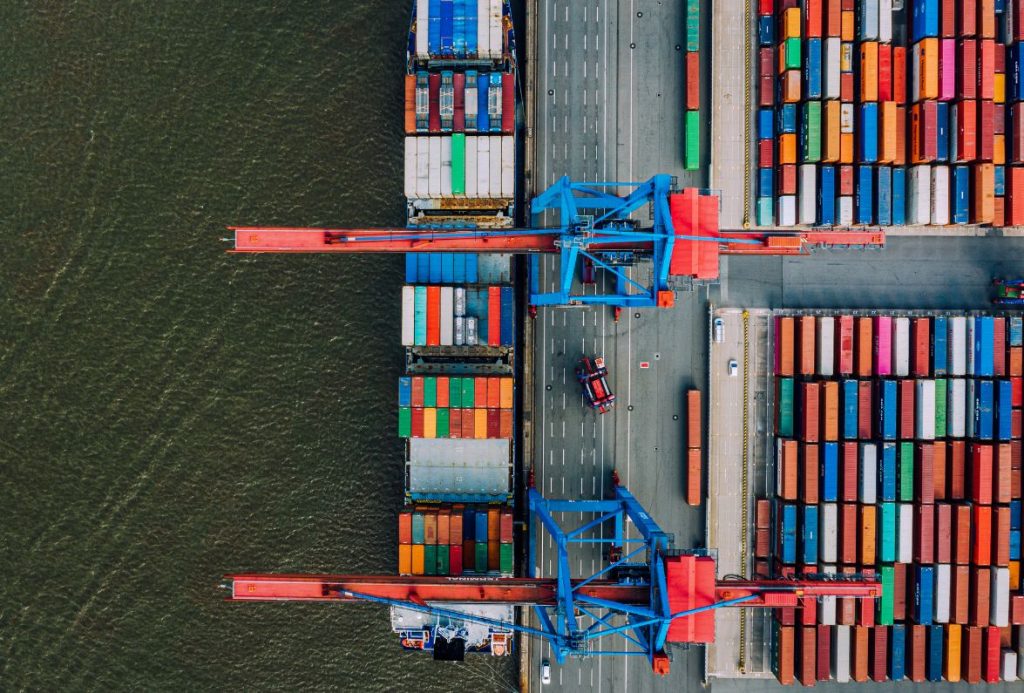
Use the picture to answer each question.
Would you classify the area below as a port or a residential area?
port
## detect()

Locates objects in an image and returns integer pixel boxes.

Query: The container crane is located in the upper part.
[220,169,888,321]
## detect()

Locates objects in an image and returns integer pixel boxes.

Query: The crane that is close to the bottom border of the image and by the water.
[223,473,881,673]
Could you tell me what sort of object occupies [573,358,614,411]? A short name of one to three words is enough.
work vehicle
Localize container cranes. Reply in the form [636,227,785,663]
[220,169,888,321]
[223,473,881,673]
